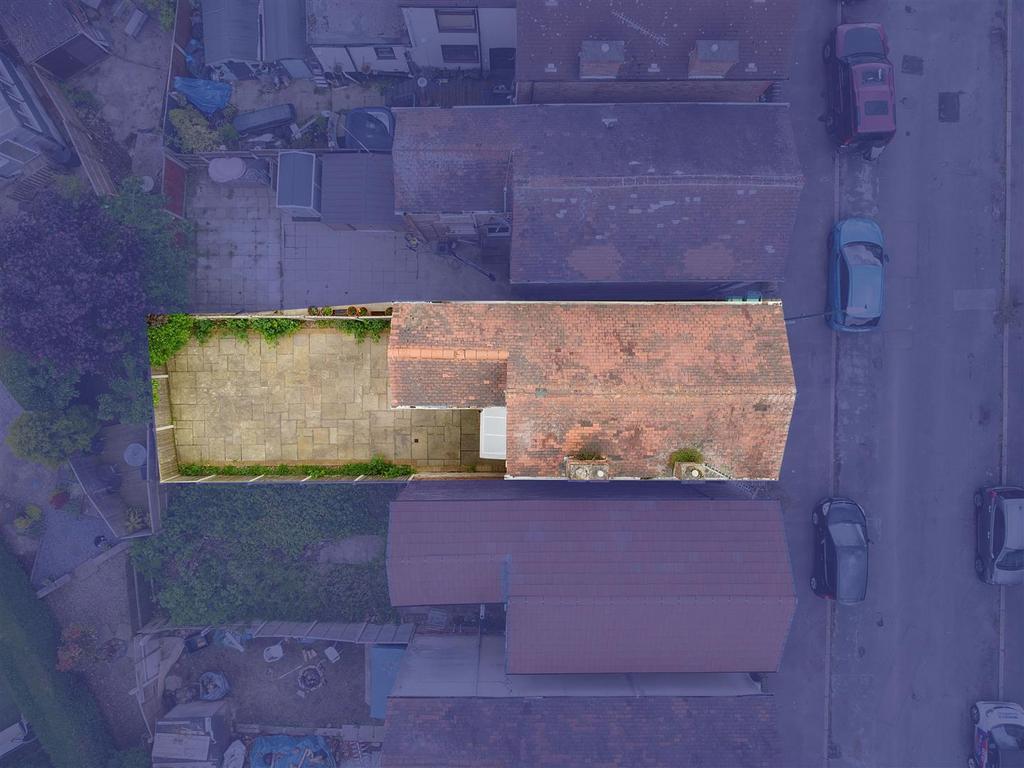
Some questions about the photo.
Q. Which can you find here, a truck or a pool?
pool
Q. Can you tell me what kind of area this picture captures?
residential area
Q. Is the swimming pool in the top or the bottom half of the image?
top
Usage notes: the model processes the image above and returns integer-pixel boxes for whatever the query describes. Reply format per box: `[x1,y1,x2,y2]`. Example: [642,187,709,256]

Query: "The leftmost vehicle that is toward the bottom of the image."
[811,495,873,604]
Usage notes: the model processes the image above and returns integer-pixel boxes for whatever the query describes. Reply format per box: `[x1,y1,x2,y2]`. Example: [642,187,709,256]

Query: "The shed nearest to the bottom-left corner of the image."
[152,700,236,768]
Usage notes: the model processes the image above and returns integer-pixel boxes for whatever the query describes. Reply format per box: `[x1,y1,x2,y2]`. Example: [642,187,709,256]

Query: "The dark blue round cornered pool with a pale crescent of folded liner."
[346,107,393,150]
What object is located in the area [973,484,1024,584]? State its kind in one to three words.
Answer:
car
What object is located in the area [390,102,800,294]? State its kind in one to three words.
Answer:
house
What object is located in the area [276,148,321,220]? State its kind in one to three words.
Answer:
shed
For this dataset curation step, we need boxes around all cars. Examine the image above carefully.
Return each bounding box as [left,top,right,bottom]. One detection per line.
[968,698,1024,768]
[811,495,873,604]
[826,24,895,146]
[827,219,890,332]
[973,484,1024,584]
